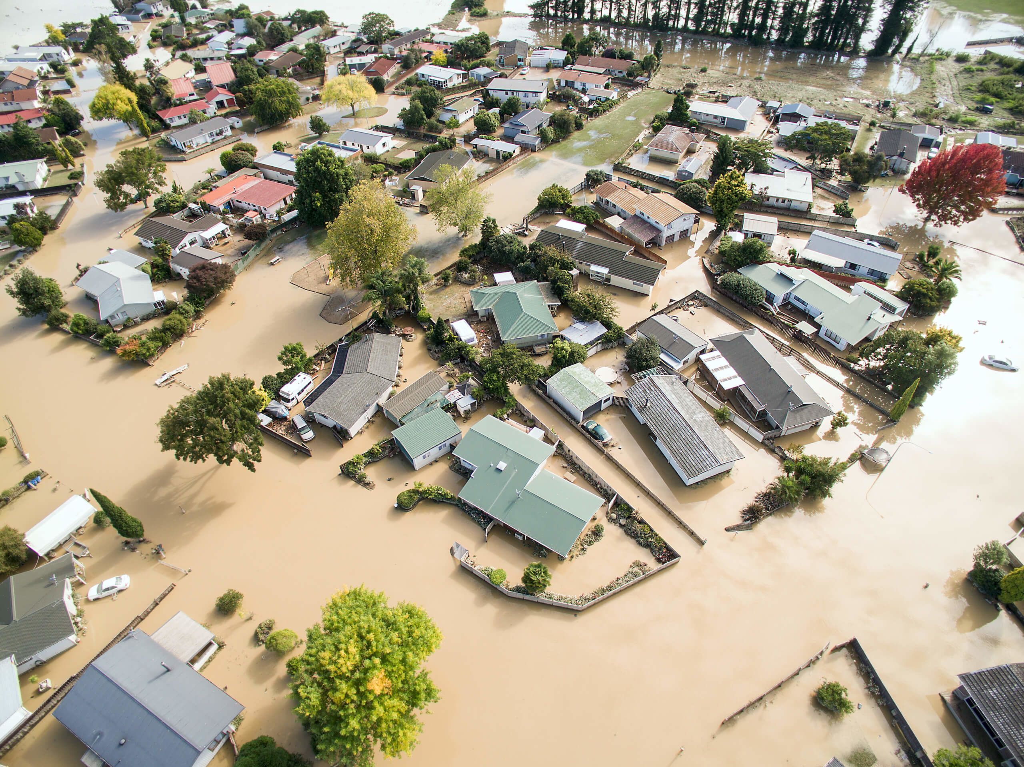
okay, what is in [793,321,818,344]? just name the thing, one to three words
gazebo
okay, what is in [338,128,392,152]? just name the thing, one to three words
house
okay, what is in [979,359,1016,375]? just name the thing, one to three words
car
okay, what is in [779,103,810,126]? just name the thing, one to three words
building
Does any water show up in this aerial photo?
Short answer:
Yes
